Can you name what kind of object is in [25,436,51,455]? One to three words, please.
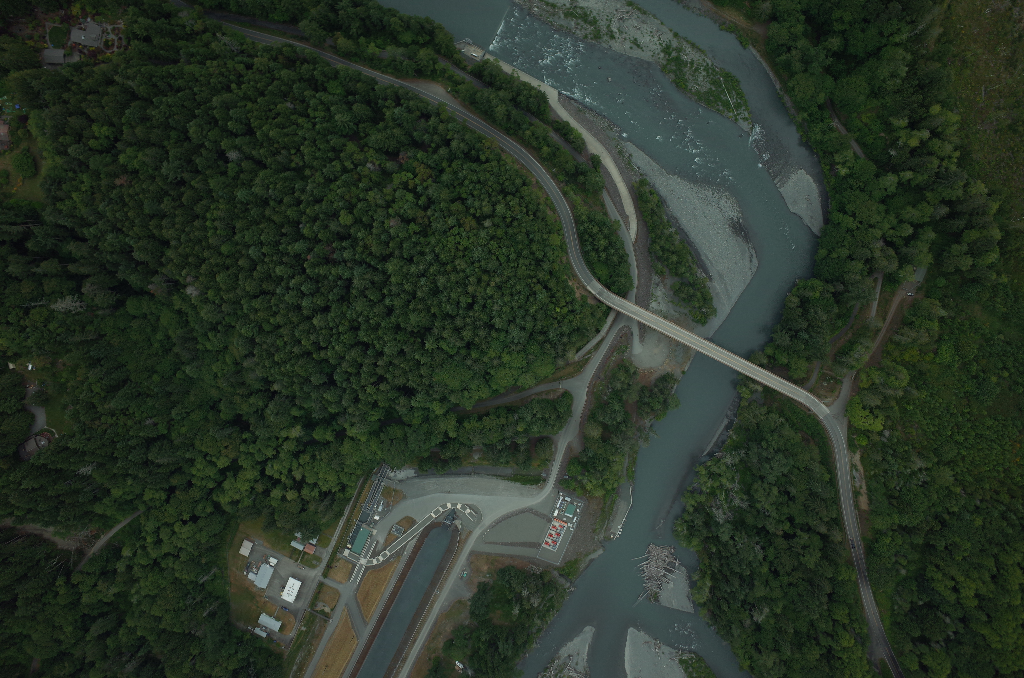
house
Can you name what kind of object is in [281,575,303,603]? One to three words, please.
building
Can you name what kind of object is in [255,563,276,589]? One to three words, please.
building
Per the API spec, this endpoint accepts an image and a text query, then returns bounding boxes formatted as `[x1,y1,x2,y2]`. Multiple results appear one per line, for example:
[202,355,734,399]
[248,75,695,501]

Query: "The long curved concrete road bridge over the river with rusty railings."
[587,279,830,419]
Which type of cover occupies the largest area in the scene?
trees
